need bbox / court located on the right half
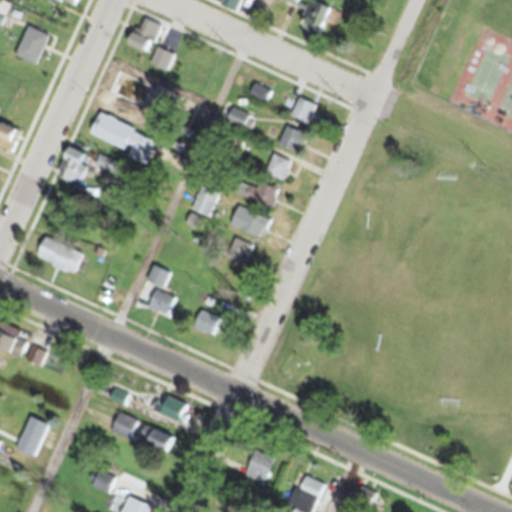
[452,27,512,131]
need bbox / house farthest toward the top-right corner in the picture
[296,0,333,30]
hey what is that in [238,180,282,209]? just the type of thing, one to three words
house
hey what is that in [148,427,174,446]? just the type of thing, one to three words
house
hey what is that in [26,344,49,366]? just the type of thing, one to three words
building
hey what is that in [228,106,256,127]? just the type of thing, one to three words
building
